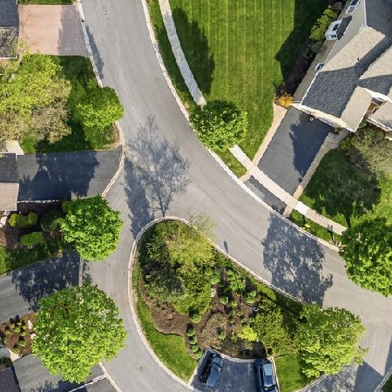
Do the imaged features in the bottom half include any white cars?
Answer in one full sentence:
No, looking in the bottom half, there is no white car.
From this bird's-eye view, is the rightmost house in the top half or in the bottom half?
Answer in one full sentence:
You can find the rightmost house in the top half.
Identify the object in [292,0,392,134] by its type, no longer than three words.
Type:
house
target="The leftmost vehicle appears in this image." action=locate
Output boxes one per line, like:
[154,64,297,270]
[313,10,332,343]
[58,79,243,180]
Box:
[197,350,223,387]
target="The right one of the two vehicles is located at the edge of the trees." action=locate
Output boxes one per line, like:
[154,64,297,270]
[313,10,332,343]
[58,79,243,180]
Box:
[254,358,277,392]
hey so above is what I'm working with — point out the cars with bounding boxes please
[254,358,277,392]
[197,350,223,387]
